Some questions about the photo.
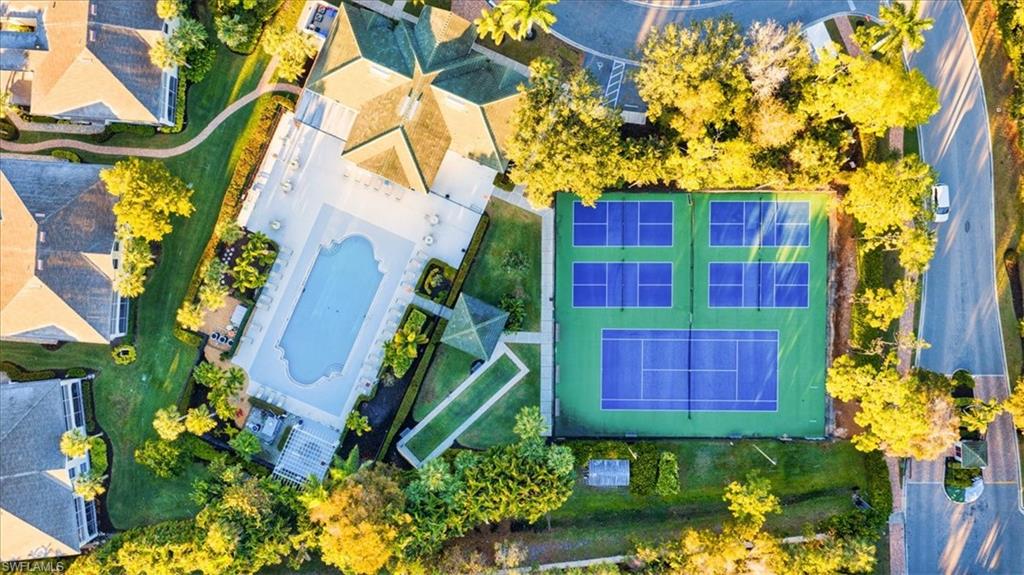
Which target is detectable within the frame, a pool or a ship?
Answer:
pool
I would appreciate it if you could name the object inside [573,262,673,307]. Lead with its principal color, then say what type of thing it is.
blue sports court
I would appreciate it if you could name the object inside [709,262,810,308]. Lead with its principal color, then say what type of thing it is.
blue sports court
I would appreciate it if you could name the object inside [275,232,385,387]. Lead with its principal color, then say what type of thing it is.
blue swimming pool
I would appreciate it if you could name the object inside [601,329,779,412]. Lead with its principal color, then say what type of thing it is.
blue tennis court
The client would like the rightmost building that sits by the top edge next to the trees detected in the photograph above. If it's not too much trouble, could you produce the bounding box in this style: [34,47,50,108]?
[306,0,527,192]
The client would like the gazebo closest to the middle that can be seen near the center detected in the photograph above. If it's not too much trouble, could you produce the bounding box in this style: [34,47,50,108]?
[440,292,509,361]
